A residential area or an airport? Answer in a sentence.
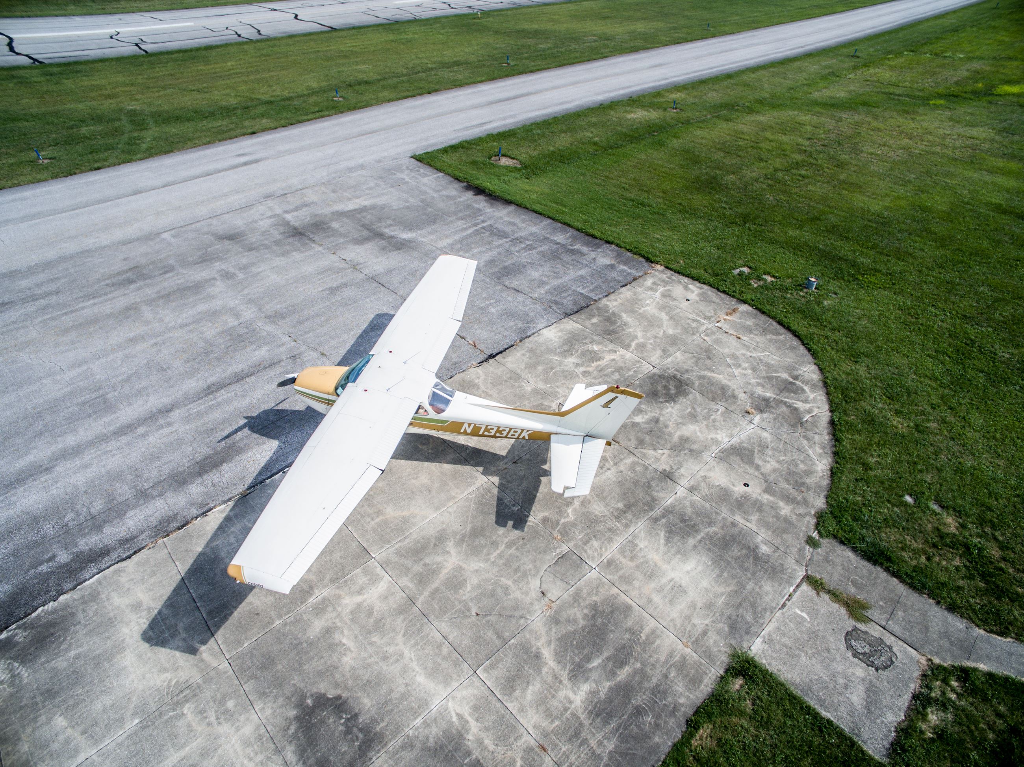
What you see here is an airport.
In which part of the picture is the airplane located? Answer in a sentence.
The airplane is located in the center region of the scene.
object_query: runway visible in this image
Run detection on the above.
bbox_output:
[0,0,581,68]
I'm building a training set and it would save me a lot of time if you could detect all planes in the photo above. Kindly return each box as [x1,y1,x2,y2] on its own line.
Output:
[228,252,643,597]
